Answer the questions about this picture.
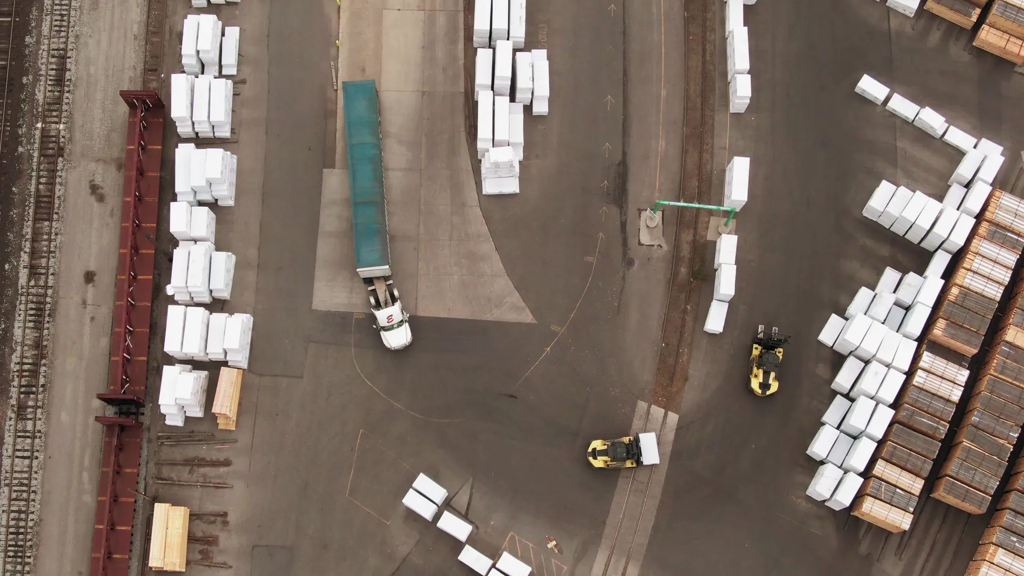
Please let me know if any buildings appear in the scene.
No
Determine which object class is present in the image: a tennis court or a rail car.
rail car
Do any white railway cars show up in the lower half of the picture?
No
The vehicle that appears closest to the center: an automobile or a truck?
truck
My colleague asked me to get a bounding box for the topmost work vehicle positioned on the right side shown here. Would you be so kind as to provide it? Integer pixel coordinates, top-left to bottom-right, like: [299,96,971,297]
[750,327,790,399]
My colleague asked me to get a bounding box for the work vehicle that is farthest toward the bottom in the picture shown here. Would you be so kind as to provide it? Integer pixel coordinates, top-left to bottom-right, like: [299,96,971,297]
[586,432,645,468]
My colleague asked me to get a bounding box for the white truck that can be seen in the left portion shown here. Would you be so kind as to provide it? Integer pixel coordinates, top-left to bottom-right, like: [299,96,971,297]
[360,276,412,355]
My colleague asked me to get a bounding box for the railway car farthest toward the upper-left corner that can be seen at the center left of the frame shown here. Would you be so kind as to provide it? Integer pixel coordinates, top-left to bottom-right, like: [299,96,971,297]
[96,95,165,417]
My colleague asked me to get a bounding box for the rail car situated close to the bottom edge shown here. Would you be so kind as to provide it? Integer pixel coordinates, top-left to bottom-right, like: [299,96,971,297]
[94,415,144,576]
